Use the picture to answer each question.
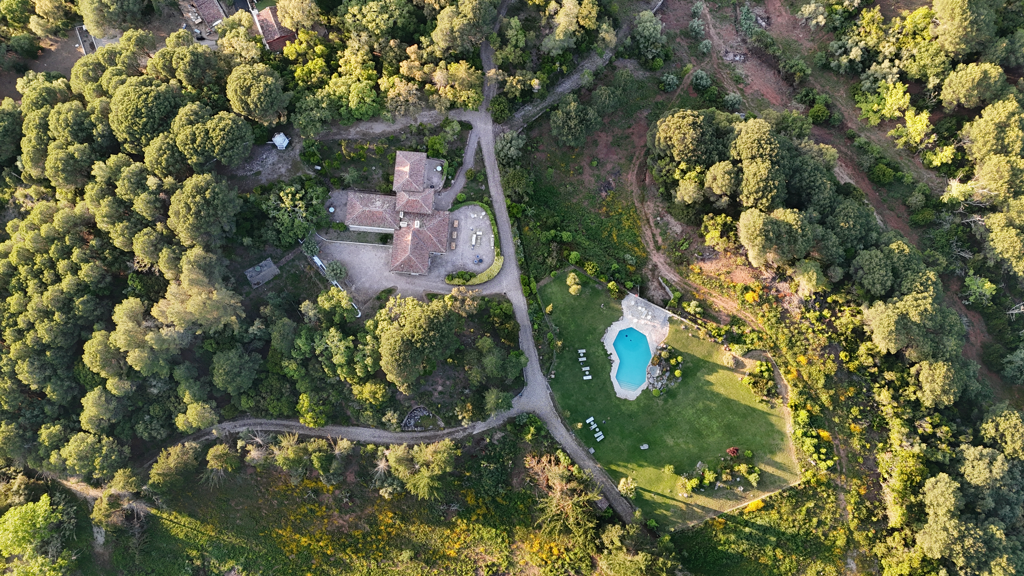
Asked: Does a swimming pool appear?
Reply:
Yes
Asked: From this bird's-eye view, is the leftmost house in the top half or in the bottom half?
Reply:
top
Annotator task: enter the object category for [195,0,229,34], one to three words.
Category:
house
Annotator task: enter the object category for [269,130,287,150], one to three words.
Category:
gazebo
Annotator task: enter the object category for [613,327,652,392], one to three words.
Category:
swimming pool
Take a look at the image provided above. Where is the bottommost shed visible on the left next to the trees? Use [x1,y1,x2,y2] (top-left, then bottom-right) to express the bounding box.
[244,258,282,290]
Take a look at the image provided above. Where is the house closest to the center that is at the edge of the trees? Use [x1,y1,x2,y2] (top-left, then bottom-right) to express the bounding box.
[345,150,450,276]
